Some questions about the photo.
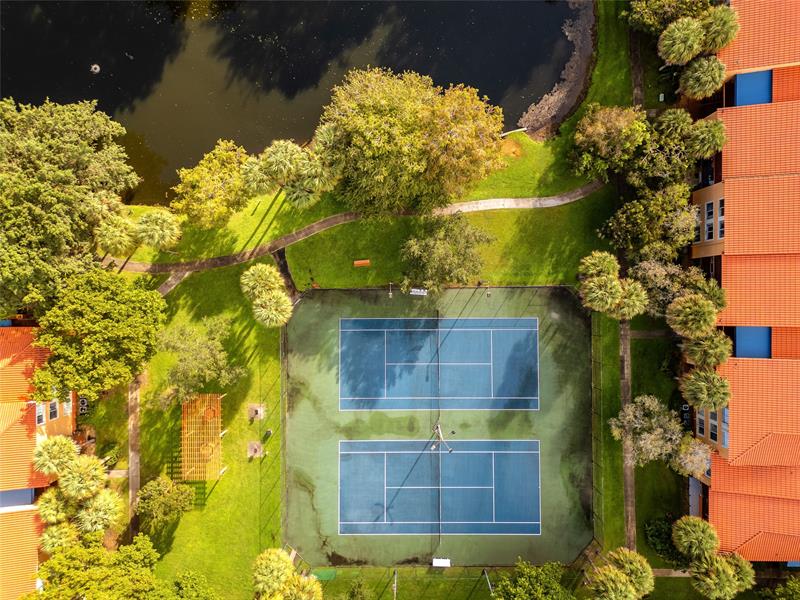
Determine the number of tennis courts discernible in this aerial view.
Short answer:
2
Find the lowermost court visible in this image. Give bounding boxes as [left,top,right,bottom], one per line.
[338,441,541,535]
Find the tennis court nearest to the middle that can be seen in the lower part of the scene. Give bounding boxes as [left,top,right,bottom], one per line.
[338,318,540,411]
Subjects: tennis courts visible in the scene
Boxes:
[338,318,540,411]
[338,441,541,535]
